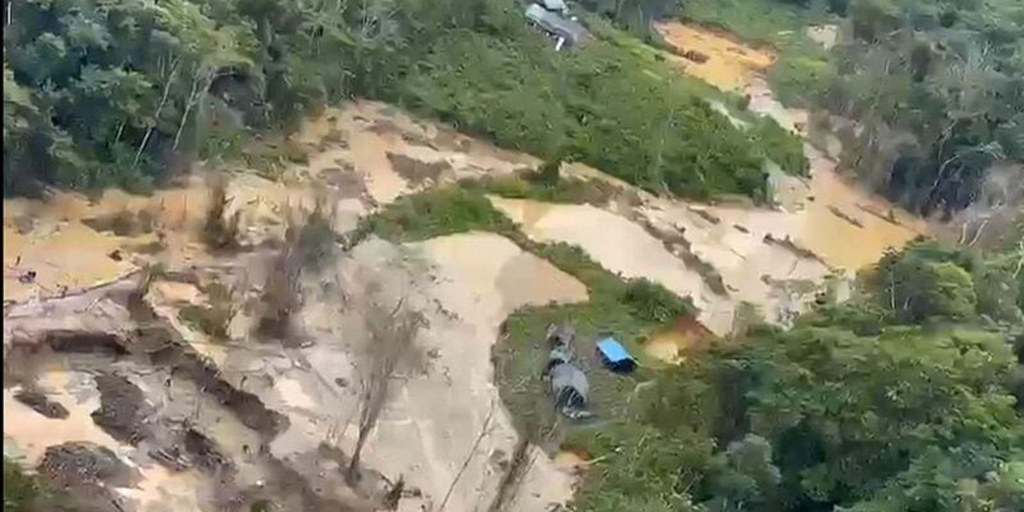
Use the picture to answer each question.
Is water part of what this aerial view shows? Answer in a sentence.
Yes, water can be seen from above here.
